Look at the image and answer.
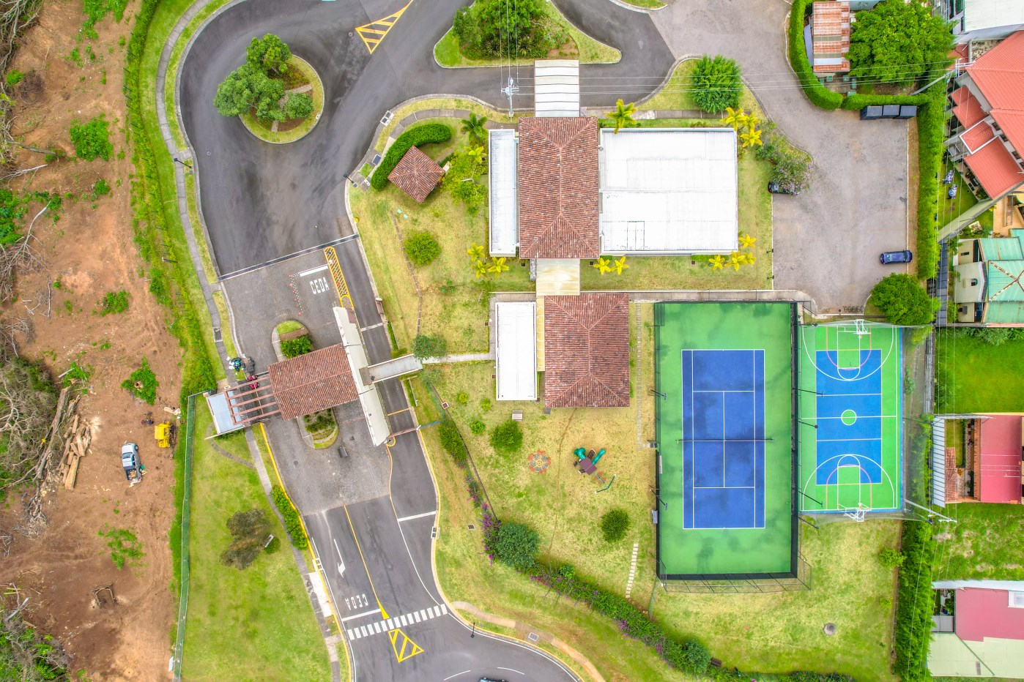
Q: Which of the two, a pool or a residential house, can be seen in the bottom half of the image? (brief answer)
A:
residential house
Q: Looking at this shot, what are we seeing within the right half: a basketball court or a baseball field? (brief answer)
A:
basketball court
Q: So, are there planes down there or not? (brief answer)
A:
No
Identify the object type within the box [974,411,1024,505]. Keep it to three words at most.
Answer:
house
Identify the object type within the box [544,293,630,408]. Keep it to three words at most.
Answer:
house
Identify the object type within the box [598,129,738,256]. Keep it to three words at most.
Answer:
building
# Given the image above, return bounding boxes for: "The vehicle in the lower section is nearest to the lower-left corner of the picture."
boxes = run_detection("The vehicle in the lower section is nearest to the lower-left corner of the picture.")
[116,443,140,487]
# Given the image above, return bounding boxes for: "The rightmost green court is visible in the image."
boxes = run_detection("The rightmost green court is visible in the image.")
[799,325,903,515]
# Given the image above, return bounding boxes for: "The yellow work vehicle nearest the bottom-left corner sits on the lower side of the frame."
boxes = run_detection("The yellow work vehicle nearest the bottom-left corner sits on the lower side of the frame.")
[148,425,178,447]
